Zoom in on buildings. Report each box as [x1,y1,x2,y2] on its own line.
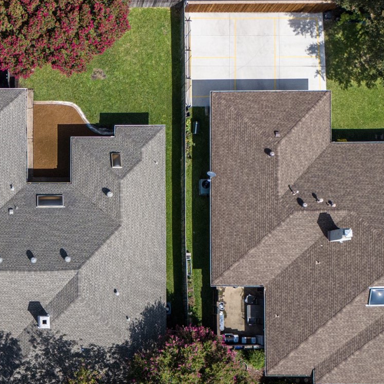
[207,90,384,384]
[0,87,169,384]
